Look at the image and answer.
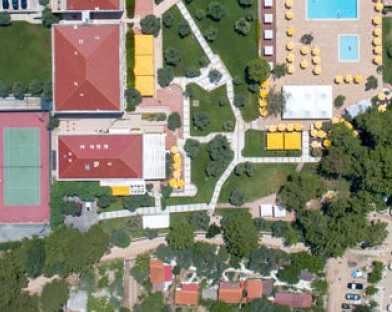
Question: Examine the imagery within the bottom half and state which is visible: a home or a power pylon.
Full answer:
There is a home within the bottom half.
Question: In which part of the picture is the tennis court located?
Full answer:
Look in the left portion of the view to spot the tennis court.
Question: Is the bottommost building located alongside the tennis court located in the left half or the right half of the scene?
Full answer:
The bottommost building located alongside the tennis court appears in the left half of the scene.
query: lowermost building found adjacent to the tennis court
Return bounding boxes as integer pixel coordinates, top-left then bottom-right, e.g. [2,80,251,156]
[57,127,145,186]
